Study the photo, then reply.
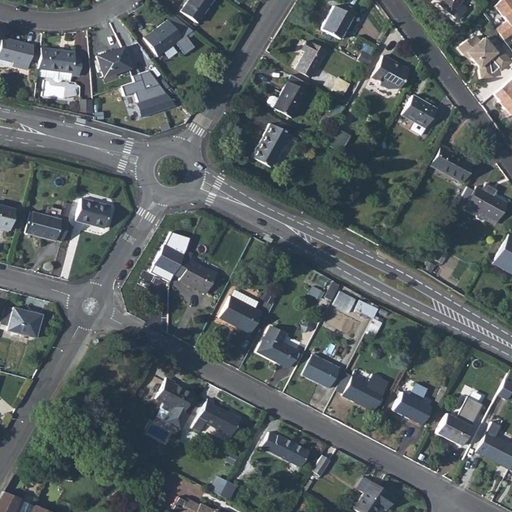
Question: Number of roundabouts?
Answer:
2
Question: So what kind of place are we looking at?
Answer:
residential area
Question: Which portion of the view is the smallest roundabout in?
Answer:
left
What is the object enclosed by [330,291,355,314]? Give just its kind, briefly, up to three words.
building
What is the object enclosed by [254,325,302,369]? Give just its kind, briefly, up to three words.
house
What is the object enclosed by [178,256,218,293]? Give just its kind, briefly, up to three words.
house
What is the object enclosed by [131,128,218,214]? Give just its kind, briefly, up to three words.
roundabout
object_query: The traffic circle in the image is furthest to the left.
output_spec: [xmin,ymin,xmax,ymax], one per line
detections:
[68,281,116,329]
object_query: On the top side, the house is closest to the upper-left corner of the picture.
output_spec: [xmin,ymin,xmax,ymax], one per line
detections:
[0,38,36,70]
